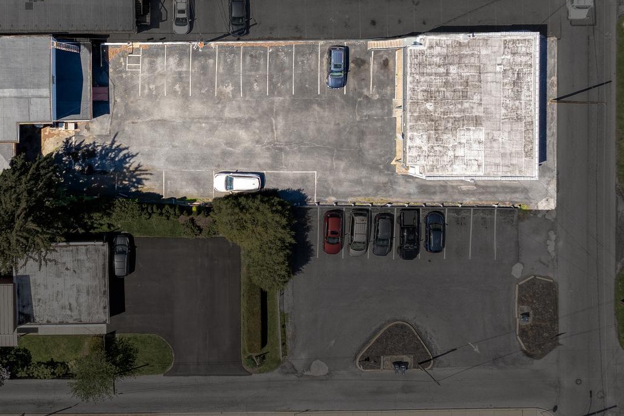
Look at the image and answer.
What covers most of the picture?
paved ground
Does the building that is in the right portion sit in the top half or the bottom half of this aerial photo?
top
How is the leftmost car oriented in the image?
vertically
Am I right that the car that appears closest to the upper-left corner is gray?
Yes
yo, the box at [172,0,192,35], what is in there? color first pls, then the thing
gray car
